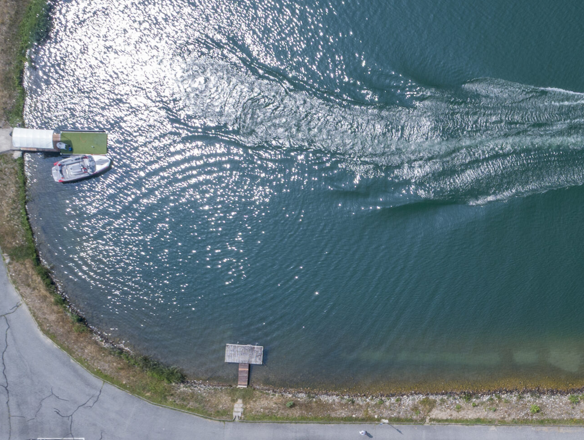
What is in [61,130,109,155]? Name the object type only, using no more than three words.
pier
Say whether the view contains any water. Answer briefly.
Yes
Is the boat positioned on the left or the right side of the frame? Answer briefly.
left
